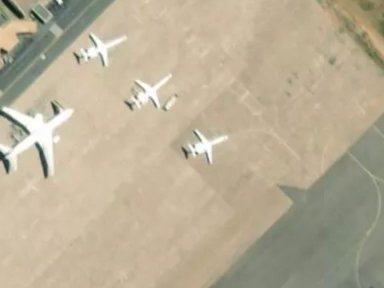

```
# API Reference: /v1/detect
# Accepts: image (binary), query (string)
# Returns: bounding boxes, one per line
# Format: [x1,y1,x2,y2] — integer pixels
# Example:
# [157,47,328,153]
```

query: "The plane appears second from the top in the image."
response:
[130,75,171,110]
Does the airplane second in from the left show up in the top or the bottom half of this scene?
top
